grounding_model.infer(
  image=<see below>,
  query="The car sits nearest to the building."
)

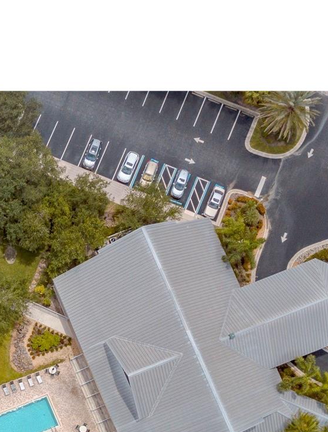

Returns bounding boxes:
[203,184,226,220]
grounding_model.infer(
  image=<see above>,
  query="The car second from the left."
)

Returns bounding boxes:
[118,149,140,184]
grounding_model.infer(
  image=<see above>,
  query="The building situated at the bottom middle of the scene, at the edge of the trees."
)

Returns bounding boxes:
[53,219,328,432]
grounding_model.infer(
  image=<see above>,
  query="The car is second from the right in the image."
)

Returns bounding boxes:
[170,167,190,200]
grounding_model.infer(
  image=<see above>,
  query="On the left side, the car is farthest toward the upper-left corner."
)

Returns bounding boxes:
[83,137,102,170]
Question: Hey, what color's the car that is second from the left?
white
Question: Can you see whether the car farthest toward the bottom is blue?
No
